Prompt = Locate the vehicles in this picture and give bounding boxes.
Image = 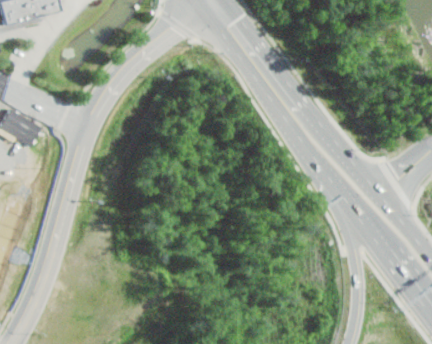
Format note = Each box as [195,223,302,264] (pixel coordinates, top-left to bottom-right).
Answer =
[344,149,352,158]
[14,48,26,56]
[400,266,410,277]
[312,163,320,172]
[354,206,362,215]
[421,254,429,262]
[12,144,20,156]
[405,165,414,173]
[376,184,385,194]
[383,205,391,214]
[34,104,43,111]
